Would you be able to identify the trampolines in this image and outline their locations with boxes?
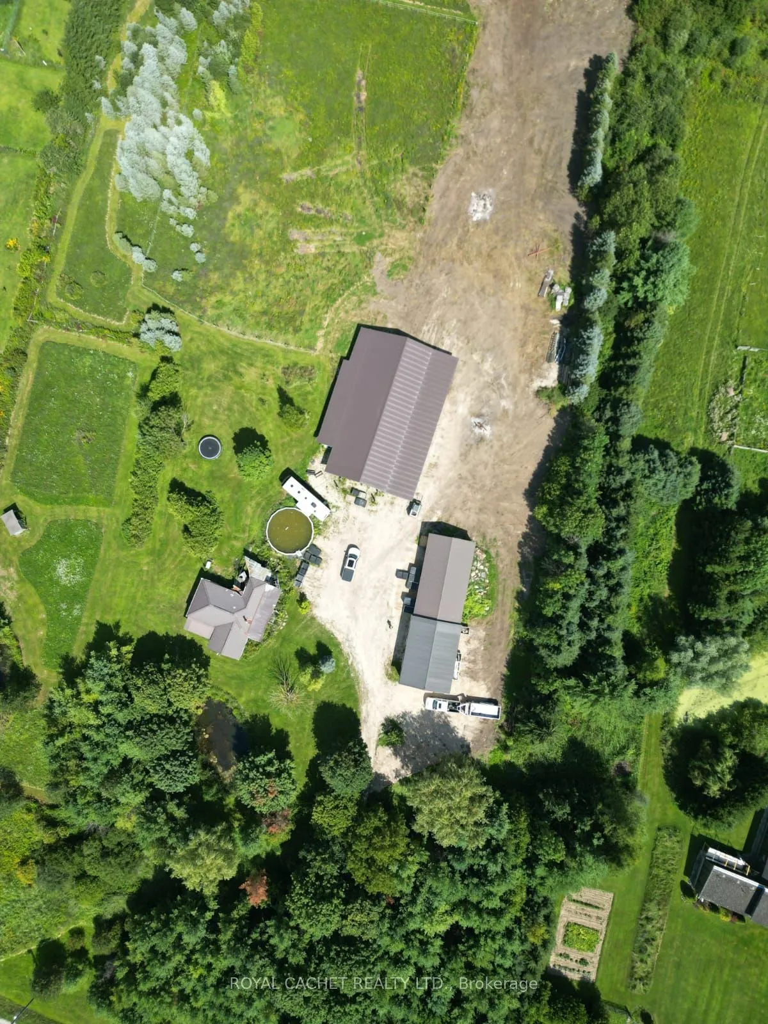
[199,437,221,459]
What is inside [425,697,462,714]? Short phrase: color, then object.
white vehicle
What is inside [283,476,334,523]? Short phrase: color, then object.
white vehicle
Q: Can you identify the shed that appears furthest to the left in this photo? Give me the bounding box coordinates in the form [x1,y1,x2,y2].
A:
[1,510,27,535]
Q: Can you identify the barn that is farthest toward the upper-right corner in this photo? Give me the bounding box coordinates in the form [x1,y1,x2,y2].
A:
[317,327,458,500]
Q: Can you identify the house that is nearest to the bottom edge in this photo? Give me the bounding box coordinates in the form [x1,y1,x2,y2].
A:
[693,811,768,927]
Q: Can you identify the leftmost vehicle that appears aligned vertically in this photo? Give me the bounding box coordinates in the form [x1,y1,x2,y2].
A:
[340,547,359,584]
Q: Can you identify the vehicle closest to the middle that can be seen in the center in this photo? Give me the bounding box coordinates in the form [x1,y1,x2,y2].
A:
[409,499,422,517]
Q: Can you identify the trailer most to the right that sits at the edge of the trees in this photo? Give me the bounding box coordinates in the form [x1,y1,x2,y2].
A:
[459,700,503,720]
